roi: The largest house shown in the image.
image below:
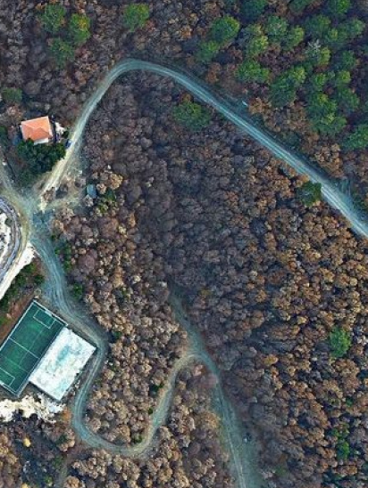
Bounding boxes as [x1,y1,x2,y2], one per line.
[21,116,54,144]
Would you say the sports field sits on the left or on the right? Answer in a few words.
left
